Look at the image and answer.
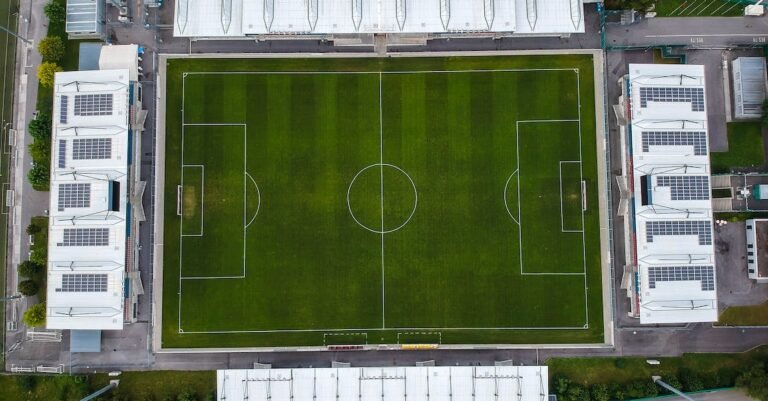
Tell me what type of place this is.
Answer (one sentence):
What you see here is a sports ground.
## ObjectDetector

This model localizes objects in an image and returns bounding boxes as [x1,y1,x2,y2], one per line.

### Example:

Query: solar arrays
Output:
[73,138,111,160]
[57,229,109,246]
[640,88,704,111]
[58,139,65,168]
[60,96,67,124]
[646,221,712,244]
[74,94,112,115]
[643,132,706,155]
[658,176,710,199]
[55,274,106,292]
[58,184,90,211]
[649,266,715,290]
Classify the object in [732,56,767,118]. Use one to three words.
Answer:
shed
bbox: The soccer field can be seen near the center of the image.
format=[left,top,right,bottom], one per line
[161,55,604,349]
